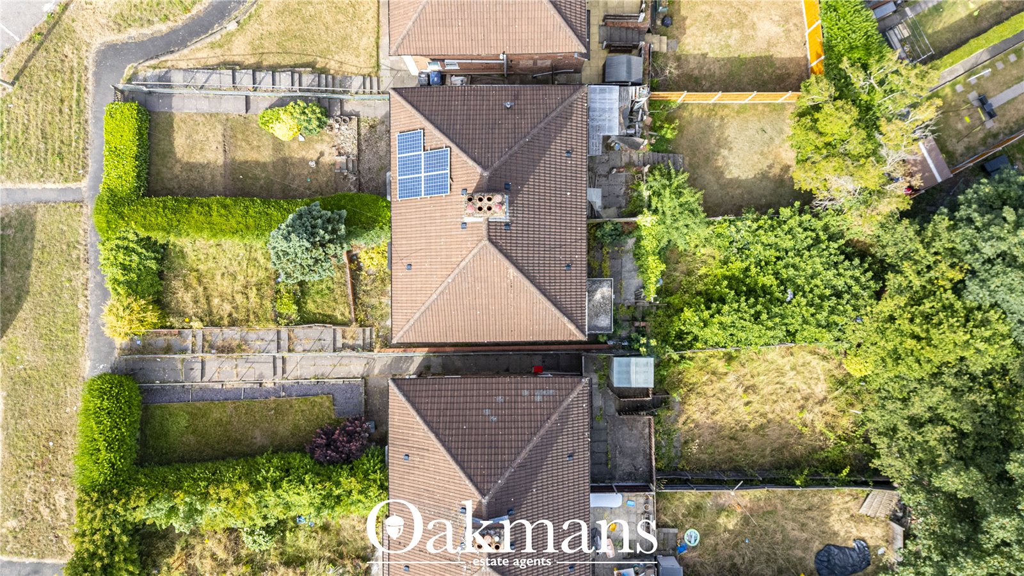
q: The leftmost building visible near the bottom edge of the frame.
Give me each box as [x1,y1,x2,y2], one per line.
[387,370,591,576]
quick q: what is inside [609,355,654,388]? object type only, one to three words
shed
